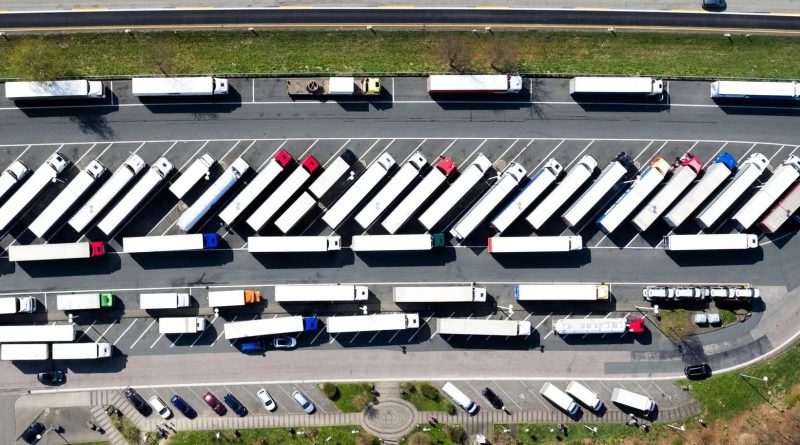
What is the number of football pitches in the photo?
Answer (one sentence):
The photo contains no football pitches.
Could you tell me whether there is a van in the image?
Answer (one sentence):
Yes, there is a van in the image.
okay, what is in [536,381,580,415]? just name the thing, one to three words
van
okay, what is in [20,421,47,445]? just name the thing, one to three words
car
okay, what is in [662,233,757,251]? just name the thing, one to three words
vehicle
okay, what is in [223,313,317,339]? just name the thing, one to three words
truck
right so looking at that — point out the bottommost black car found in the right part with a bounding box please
[482,387,505,410]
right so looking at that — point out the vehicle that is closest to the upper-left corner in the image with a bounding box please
[5,80,104,101]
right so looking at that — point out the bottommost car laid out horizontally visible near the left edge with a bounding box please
[39,372,66,384]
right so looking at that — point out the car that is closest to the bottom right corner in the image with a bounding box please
[684,365,712,377]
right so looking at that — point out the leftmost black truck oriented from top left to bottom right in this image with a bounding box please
[124,387,153,418]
